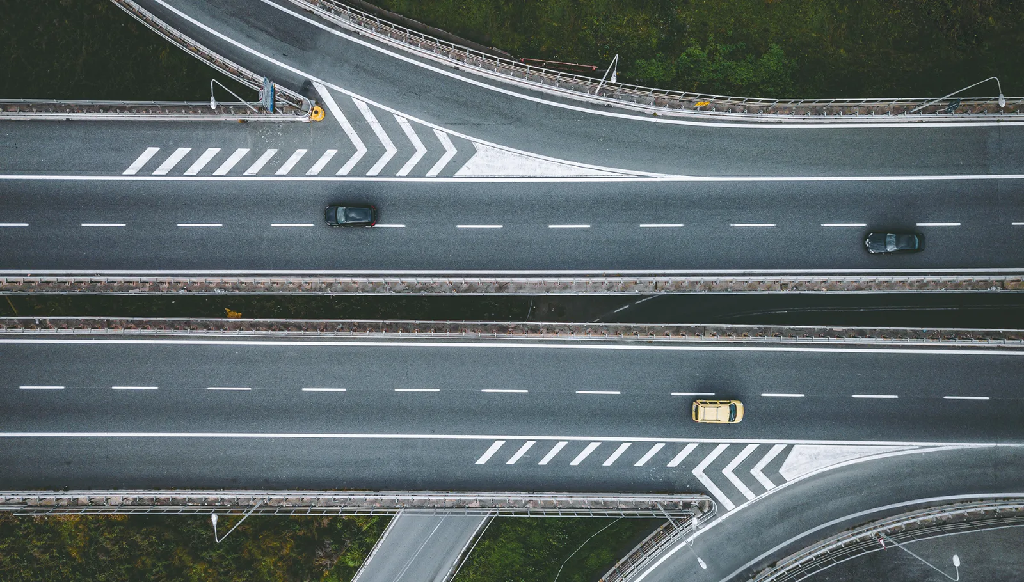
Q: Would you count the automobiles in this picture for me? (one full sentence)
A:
The photo contains 3 automobiles.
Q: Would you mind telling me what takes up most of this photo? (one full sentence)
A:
The scene is dominated by paved ground.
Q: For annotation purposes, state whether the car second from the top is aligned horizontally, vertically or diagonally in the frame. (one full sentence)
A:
In this picture, the car second from the top lies horizontally.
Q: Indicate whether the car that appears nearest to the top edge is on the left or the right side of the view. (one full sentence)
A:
It is on the left.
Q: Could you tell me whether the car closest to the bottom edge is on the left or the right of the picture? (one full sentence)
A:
The car closest to the bottom edge appears in the right half of the scene.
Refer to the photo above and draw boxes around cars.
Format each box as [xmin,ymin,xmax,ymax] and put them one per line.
[692,398,744,427]
[325,202,376,230]
[865,228,924,256]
